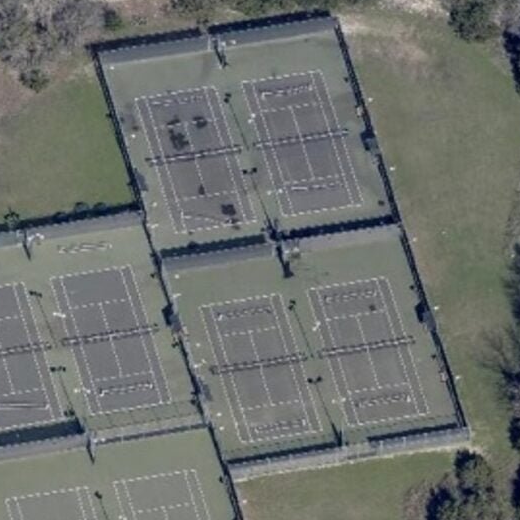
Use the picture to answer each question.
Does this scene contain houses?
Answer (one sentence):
No, there appears to be no house in this shot.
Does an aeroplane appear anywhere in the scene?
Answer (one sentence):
No, the scene contains no aeroplane.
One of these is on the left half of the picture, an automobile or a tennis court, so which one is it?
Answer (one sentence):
What appears on the left half of the picture is a tennis court.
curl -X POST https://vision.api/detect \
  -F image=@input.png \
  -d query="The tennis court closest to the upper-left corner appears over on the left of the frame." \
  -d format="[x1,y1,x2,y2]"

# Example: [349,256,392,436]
[136,86,255,232]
